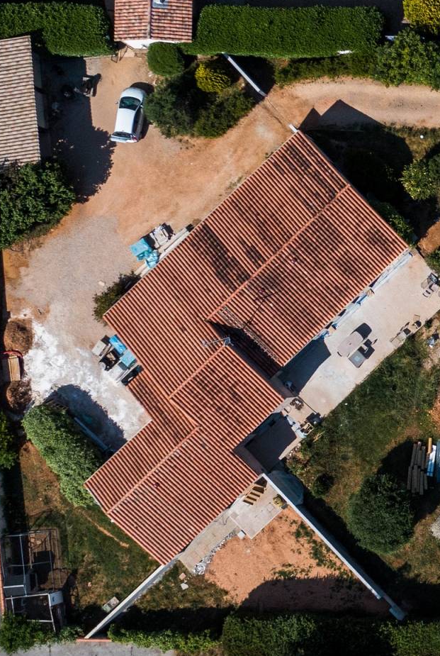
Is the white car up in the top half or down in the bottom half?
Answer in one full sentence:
You can find the white car in the top half.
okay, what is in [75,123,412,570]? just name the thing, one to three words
house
